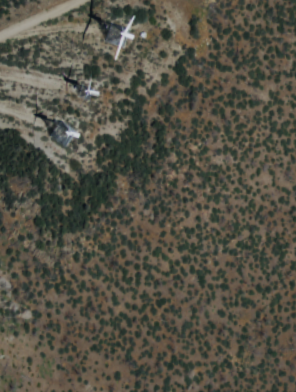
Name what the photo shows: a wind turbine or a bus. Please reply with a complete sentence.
I can see a wind turbine in this picture.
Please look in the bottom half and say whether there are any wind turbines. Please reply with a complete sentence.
No, I can find no wind turbine in the bottom half.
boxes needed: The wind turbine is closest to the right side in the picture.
[105,14,135,60]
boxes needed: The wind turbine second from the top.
[76,76,98,116]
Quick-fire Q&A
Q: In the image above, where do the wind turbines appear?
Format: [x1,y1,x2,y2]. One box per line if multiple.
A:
[76,76,98,116]
[48,120,78,158]
[105,14,135,60]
